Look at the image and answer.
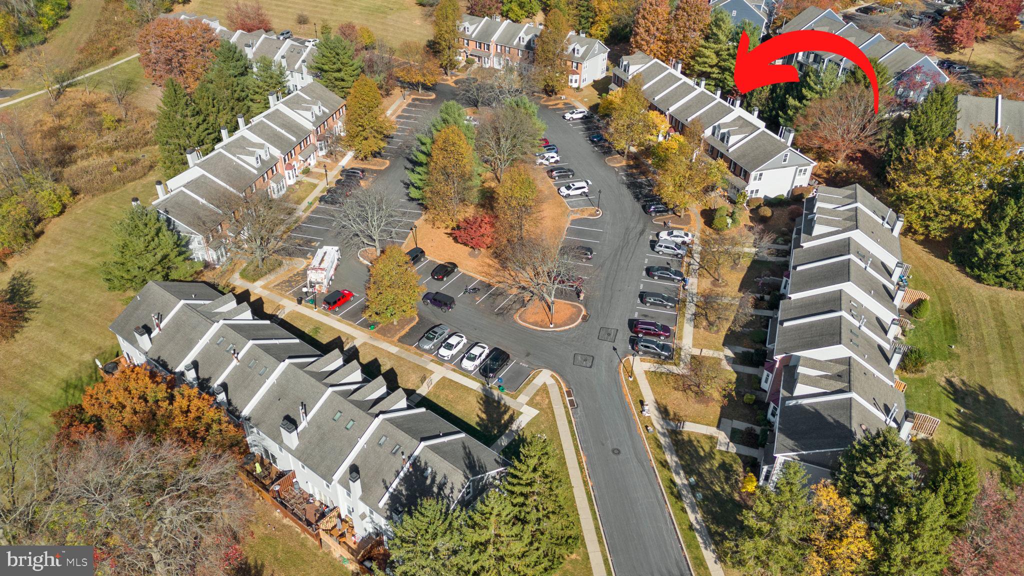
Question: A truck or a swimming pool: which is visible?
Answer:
truck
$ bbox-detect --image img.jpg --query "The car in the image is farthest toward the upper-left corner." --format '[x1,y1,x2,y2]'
[277,27,292,39]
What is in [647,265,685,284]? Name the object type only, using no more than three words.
car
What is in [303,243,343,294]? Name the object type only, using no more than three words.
truck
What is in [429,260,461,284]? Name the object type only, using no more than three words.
car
